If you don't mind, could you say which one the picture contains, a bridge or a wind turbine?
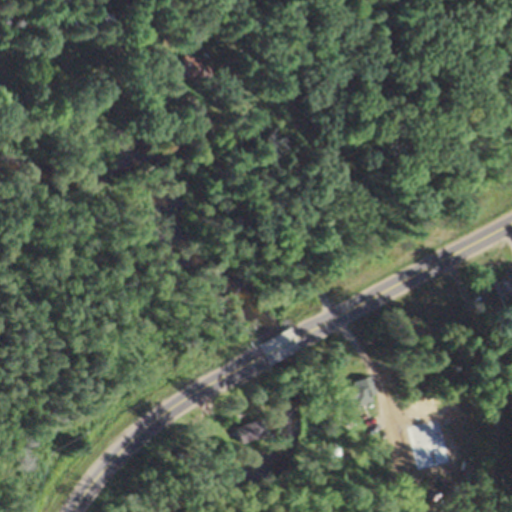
bridge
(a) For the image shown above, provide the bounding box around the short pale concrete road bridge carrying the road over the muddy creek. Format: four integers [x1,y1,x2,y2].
[260,327,302,364]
